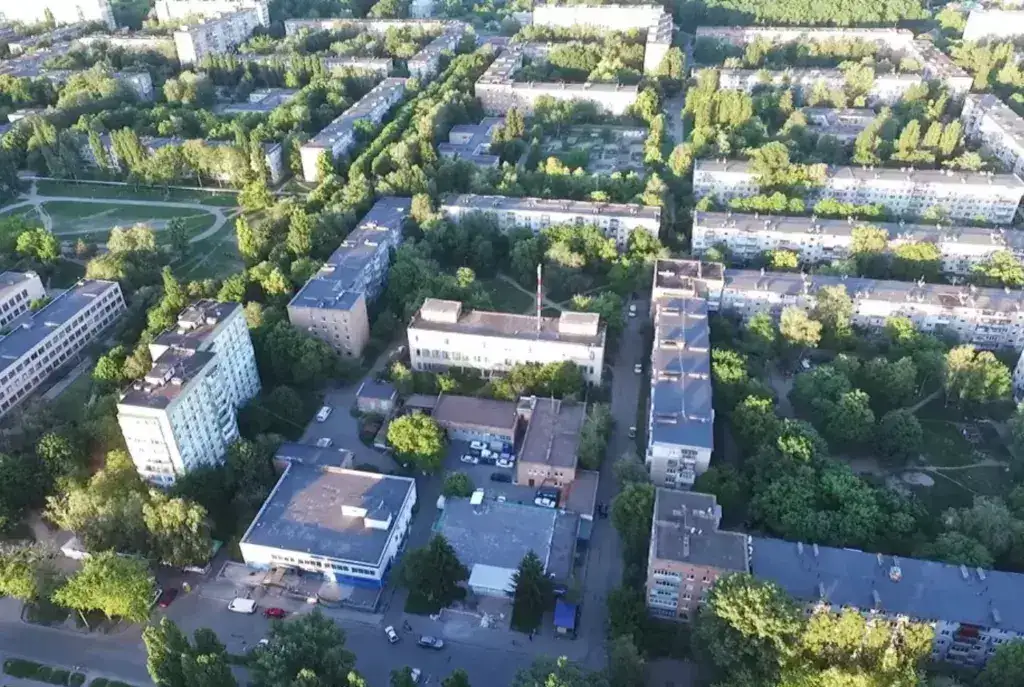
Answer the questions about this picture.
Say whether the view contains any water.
No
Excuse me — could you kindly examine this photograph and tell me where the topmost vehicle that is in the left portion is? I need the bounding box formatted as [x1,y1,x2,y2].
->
[315,407,333,420]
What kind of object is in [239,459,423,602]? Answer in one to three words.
building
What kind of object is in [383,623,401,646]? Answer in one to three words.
car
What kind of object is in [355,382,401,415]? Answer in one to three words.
shed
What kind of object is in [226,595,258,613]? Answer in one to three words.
vehicle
